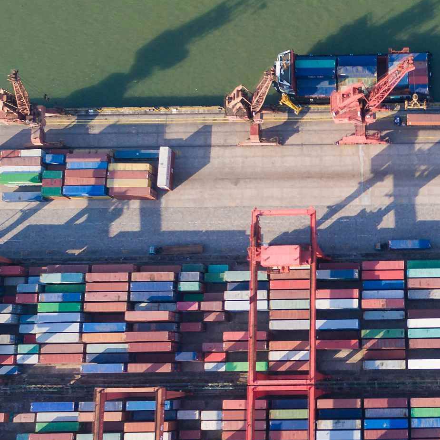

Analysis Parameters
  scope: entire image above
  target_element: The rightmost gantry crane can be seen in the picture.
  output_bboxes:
[327,56,439,145]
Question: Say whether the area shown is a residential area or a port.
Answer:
port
